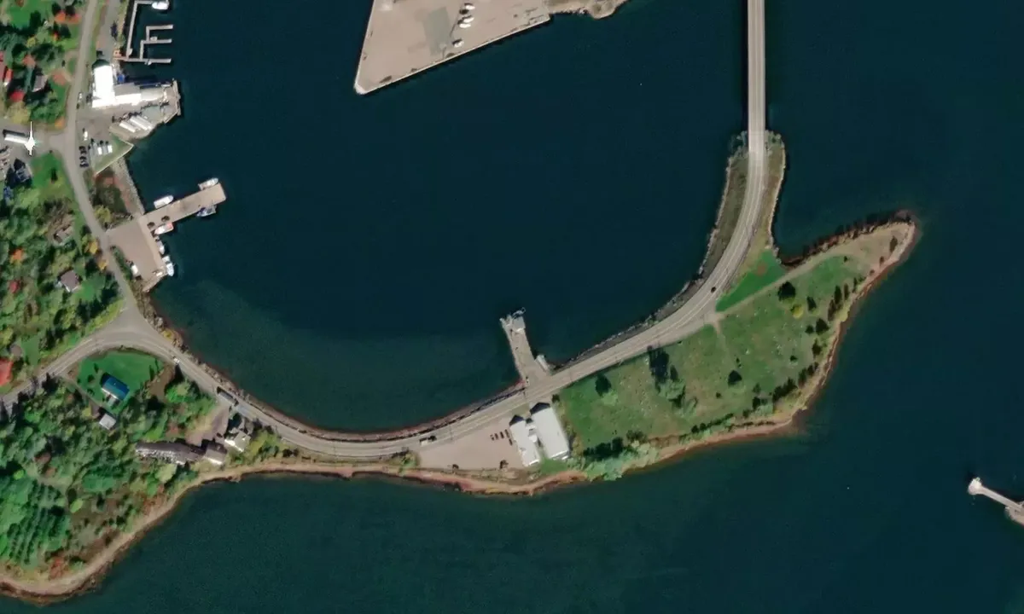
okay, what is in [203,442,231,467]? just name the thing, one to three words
house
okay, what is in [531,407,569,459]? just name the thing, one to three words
building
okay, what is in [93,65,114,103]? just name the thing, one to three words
shed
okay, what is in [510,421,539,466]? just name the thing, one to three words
building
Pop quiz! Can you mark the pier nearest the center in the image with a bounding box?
[500,317,556,389]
